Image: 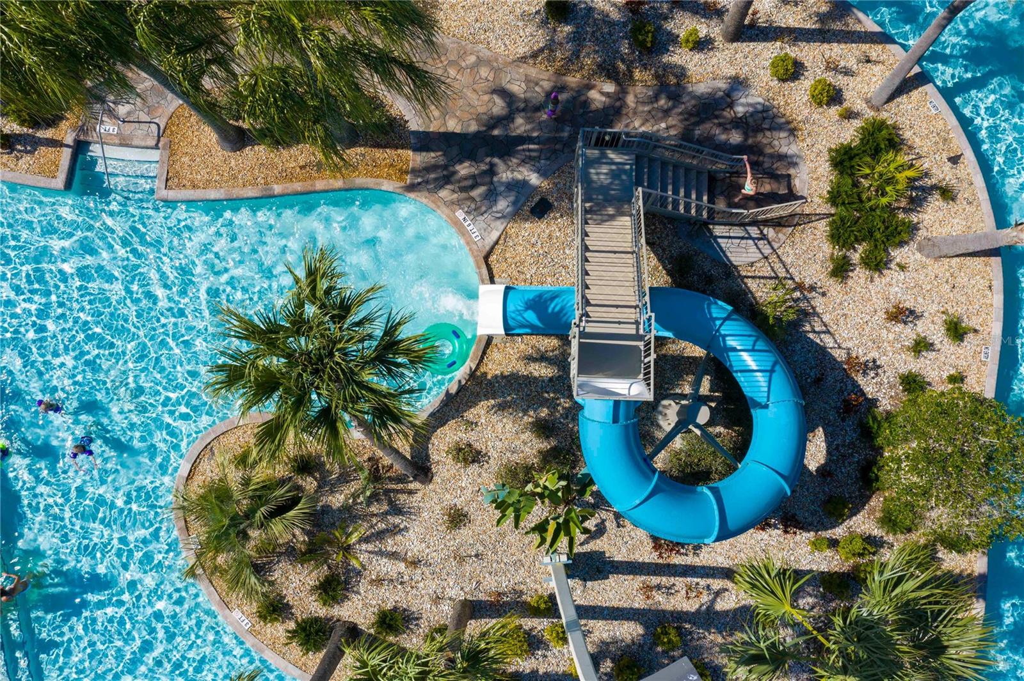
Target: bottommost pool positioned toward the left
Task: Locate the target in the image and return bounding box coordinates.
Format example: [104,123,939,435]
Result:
[0,144,480,681]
